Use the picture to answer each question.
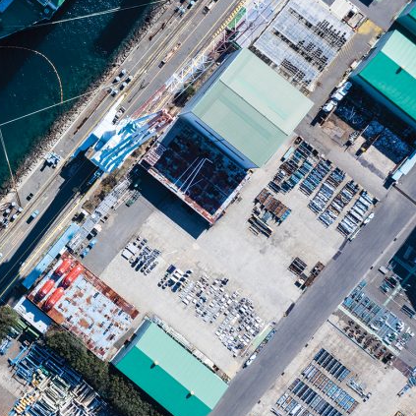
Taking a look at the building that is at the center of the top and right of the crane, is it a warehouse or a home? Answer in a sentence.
Looking closely, the building that is at the center of the top and right of the crane is a warehouse.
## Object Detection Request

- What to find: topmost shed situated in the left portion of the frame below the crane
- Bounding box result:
[88,194,123,224]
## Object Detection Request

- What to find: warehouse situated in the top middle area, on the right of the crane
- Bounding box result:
[186,48,313,169]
